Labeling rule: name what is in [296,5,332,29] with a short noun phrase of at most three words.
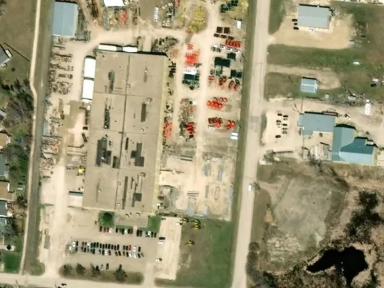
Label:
shed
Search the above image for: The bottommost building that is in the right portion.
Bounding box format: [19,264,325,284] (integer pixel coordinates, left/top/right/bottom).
[298,114,377,166]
